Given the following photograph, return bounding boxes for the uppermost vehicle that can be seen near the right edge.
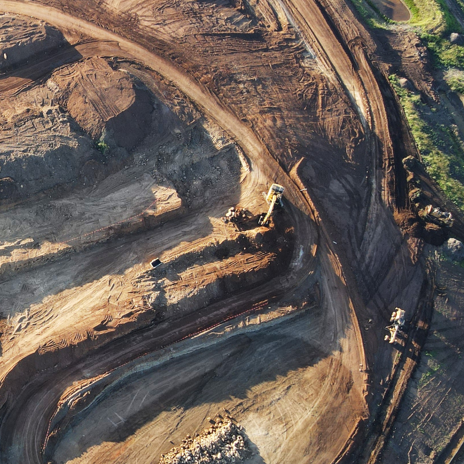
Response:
[427,203,457,225]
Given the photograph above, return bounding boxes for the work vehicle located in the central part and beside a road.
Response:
[262,178,288,223]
